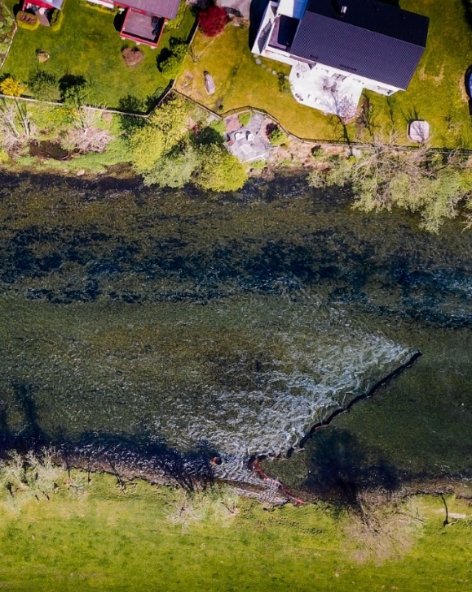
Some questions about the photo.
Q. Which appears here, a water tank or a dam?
dam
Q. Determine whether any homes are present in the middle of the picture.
No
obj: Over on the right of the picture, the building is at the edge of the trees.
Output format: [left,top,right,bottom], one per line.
[251,0,429,98]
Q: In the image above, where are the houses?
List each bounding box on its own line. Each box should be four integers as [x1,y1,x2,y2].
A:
[21,0,66,11]
[89,0,182,57]
[251,0,429,98]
